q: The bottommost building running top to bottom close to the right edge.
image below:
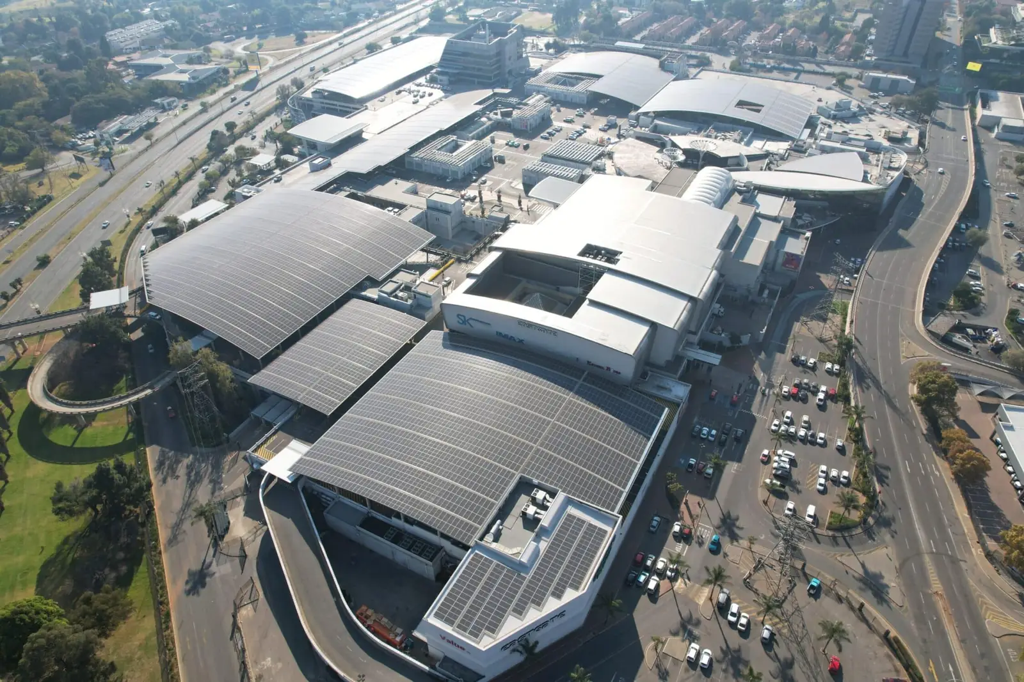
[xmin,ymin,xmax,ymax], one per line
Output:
[978,404,1024,519]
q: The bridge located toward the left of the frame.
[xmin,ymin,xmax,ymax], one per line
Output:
[0,296,171,361]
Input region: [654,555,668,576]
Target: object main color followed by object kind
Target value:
white car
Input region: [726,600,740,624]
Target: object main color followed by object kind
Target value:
white car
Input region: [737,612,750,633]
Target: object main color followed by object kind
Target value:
white vehicle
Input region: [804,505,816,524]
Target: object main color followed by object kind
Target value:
white vehicle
